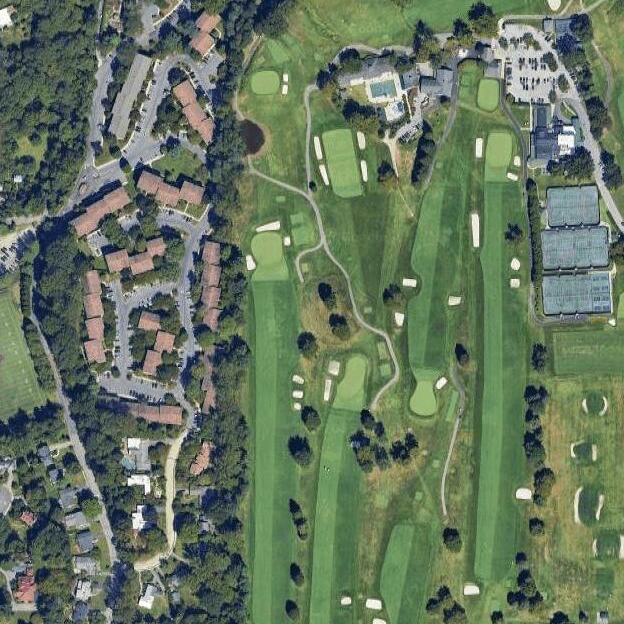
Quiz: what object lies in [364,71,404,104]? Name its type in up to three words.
swimming pool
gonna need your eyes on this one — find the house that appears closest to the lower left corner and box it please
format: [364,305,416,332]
[7,563,36,603]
